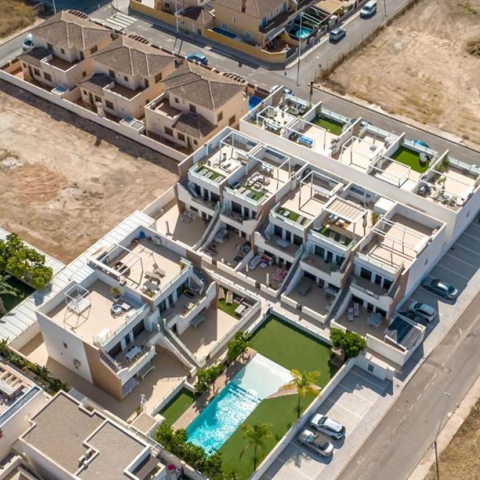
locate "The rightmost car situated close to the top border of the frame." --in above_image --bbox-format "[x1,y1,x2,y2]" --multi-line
[359,0,379,17]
